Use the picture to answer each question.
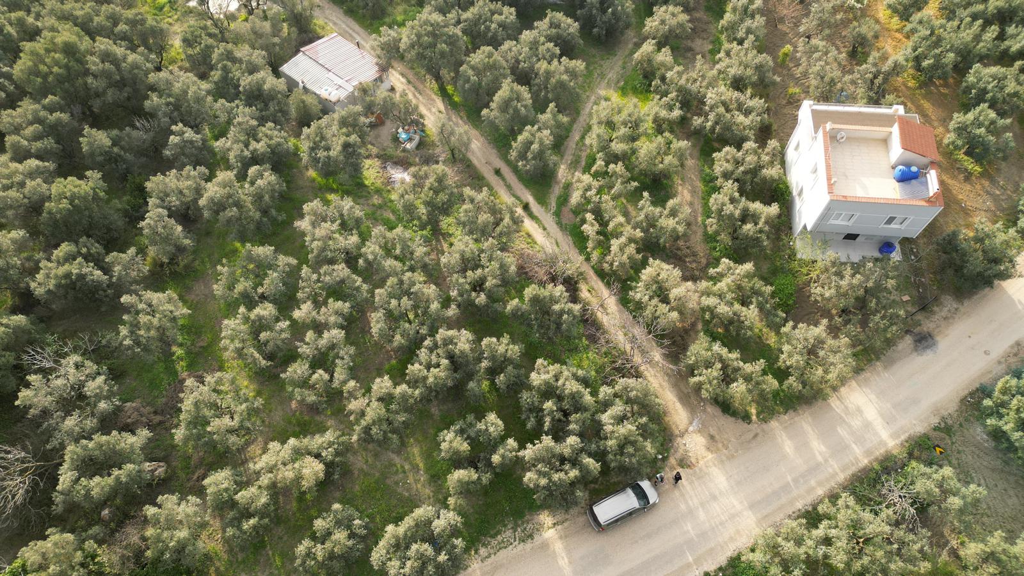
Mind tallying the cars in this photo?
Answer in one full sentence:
The count comes to 1 car.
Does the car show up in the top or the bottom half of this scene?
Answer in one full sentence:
Seen from above, the car lies in the bottom half of the view.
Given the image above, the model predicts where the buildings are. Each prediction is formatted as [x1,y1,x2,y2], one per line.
[283,25,387,121]
[781,100,944,270]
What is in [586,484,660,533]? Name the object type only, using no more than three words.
car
